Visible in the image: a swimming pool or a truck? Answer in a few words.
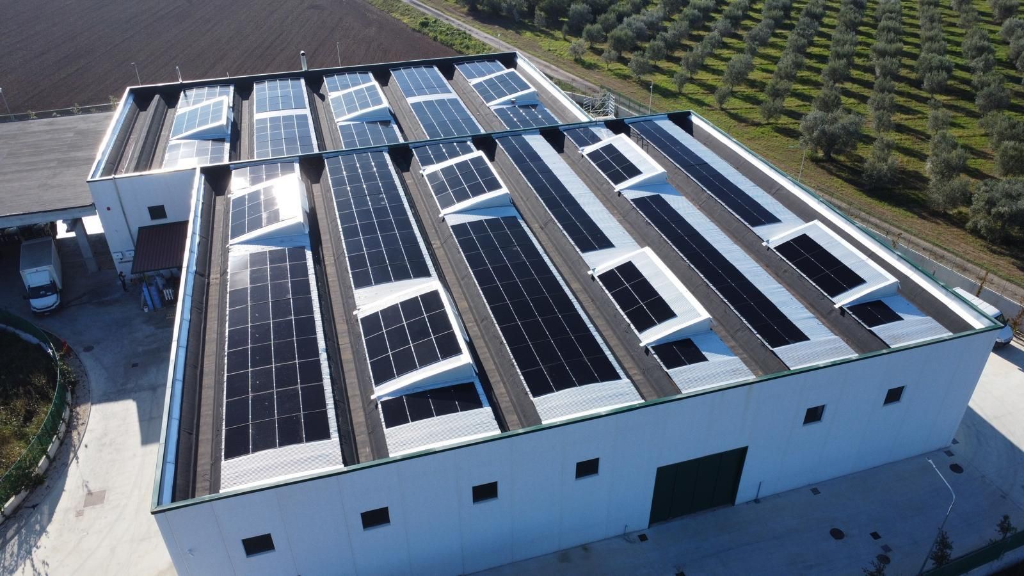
truck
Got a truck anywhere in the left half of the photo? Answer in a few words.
Yes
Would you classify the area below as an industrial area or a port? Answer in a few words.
industrial area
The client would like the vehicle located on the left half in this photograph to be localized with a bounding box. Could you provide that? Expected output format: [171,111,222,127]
[20,237,65,319]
